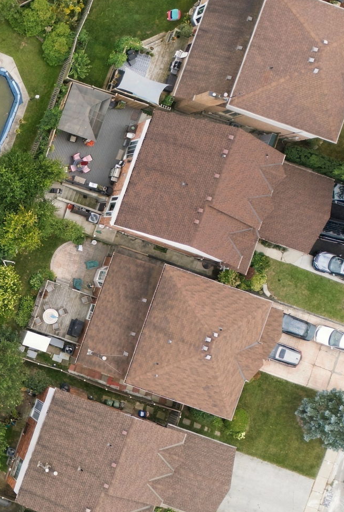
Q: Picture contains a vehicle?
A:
Yes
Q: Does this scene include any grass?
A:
Yes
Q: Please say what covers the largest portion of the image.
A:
buildings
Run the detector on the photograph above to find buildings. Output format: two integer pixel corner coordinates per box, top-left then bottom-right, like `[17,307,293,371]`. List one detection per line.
[96,107,336,274]
[70,251,284,421]
[165,0,344,146]
[5,383,237,512]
